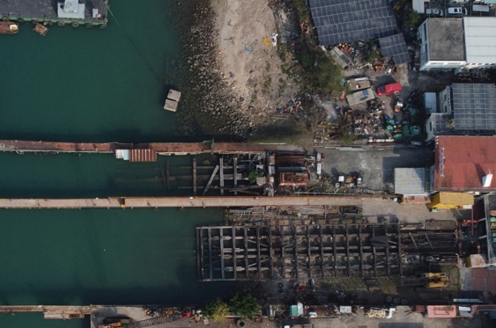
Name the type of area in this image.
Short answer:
port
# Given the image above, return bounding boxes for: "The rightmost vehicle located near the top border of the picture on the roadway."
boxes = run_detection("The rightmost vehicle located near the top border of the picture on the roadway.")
[470,2,491,15]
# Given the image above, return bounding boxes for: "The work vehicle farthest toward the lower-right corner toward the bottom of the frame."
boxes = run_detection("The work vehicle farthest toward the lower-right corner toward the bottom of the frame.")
[413,274,449,291]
